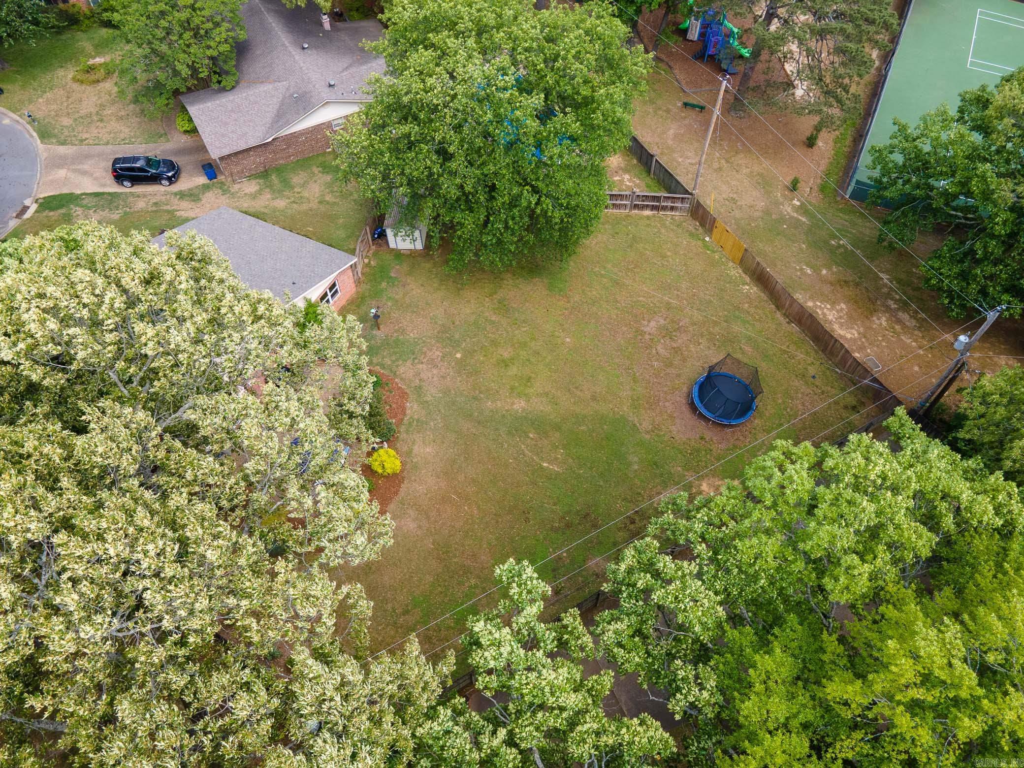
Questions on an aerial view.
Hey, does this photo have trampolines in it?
Yes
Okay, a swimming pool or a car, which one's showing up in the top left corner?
car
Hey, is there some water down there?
No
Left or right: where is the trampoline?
right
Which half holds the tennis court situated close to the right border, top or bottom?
top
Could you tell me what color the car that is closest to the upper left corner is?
black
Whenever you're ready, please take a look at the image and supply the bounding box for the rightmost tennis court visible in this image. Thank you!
[849,0,1024,205]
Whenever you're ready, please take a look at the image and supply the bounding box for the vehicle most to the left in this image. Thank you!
[110,155,183,189]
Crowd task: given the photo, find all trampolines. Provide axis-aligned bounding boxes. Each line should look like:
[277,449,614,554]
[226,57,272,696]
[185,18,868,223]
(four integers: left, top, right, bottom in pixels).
[686,358,758,436]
